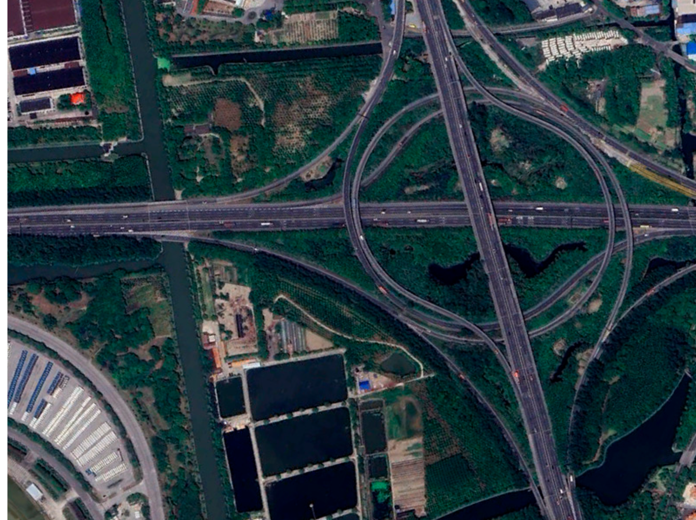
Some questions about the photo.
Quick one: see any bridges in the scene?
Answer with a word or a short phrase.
Yes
